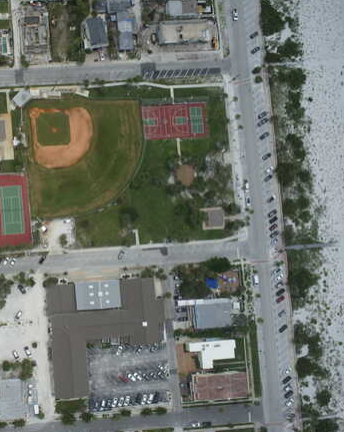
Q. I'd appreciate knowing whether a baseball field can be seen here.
Yes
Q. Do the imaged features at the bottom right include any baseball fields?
No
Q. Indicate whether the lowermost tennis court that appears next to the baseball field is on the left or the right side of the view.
left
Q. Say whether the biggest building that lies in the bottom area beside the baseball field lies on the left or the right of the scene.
left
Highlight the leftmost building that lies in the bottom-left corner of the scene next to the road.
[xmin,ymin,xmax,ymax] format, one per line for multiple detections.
[0,377,26,420]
